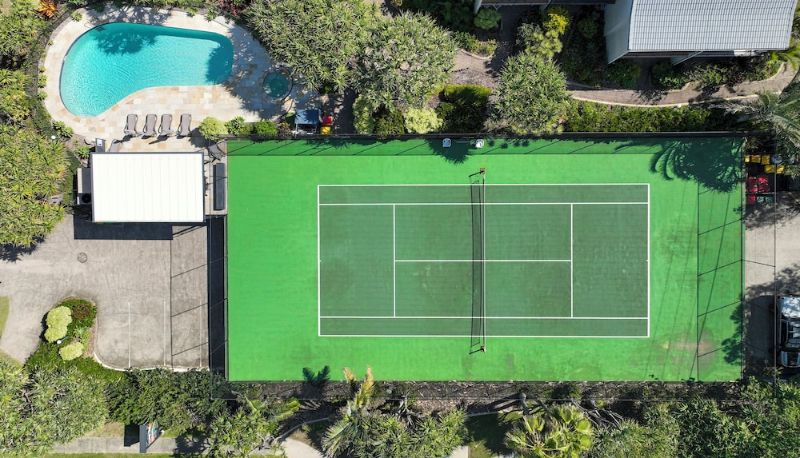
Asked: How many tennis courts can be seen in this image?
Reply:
1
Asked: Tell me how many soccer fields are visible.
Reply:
0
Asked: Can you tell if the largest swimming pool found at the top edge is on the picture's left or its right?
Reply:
left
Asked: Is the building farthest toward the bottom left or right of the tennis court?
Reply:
left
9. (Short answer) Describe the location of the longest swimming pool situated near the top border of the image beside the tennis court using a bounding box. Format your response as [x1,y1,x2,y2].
[55,18,238,121]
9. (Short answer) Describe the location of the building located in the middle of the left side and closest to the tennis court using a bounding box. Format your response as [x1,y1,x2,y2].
[91,152,216,223]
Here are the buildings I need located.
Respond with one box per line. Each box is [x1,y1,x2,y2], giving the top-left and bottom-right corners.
[91,152,216,223]
[606,0,797,65]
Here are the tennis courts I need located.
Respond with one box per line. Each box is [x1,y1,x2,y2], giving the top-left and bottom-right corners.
[223,138,745,384]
